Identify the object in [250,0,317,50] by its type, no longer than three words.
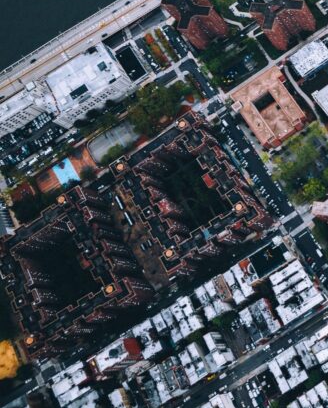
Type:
building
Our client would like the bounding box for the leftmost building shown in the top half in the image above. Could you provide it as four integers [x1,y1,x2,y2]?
[0,82,67,146]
